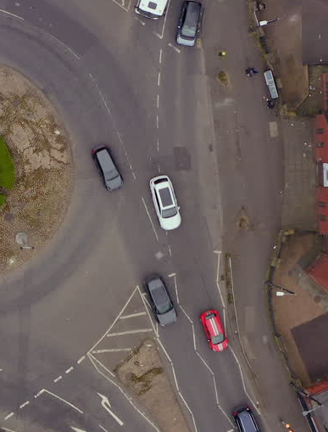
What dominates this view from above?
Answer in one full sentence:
The bulk of the photo consists of paved ground.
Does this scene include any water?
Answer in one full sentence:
No, there's no water in this view.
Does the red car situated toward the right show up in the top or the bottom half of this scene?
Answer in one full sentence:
Seen from above, the red car situated toward the right lies in the bottom half of the view.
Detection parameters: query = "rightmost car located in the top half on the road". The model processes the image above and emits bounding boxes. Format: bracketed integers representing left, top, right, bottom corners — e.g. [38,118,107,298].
[175,0,201,48]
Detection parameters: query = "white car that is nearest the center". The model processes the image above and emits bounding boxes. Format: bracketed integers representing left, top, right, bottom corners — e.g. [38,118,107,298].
[149,175,180,229]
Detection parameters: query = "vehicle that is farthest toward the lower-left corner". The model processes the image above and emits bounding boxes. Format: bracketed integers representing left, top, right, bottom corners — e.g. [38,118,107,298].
[144,275,176,326]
